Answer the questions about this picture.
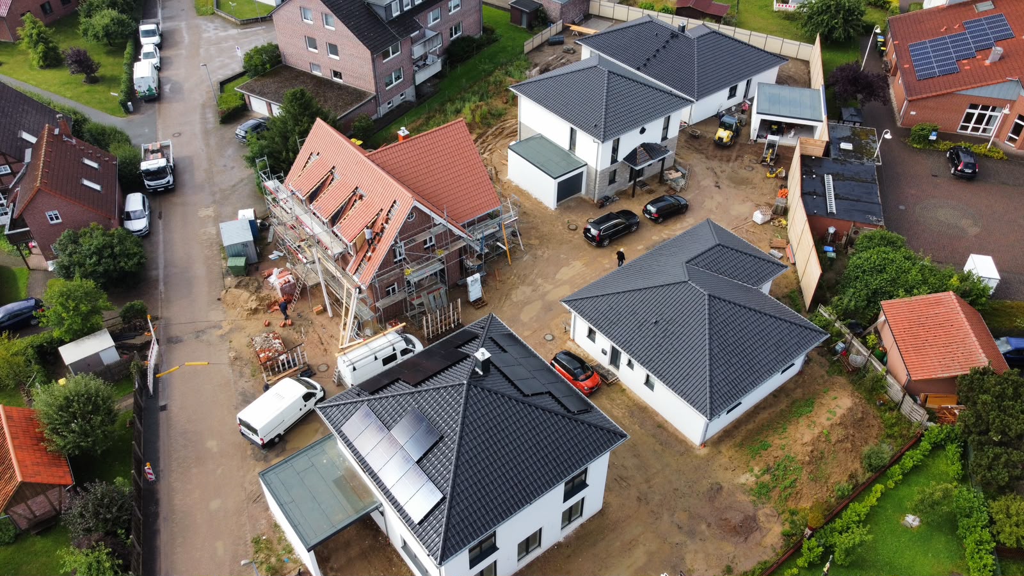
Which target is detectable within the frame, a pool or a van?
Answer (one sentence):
The image shows a van.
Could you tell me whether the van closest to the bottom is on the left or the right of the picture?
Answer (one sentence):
The van closest to the bottom sits on the left side.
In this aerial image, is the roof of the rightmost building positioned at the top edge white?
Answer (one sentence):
No, from above the roof of the rightmost building positioned at the top edge looks red.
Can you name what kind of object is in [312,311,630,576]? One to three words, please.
house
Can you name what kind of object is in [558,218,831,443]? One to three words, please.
house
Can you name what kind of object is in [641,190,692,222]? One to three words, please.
car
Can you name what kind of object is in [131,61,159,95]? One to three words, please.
van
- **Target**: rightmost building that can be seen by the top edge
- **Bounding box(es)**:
[882,0,1024,155]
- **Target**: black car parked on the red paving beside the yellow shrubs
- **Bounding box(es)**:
[944,142,983,174]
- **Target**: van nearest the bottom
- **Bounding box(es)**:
[224,374,333,453]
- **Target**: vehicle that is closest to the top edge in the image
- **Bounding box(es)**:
[139,15,162,44]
